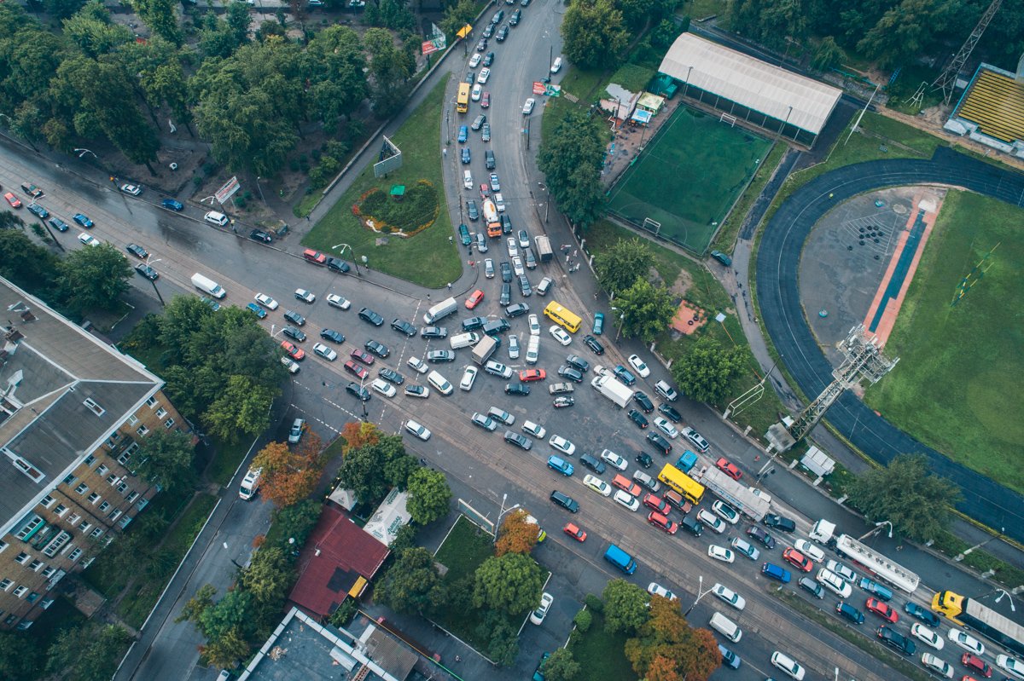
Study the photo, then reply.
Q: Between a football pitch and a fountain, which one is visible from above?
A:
football pitch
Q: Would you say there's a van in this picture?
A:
Yes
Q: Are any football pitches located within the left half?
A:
No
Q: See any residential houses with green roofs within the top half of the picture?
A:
Yes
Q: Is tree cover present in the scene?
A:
Yes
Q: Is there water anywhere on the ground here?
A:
No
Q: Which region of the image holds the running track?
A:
right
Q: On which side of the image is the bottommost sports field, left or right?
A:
right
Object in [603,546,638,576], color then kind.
blue van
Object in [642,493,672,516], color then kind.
red car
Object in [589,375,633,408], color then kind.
white truck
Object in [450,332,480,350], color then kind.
white vehicle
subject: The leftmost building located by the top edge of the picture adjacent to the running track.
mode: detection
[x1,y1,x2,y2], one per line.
[655,34,844,150]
